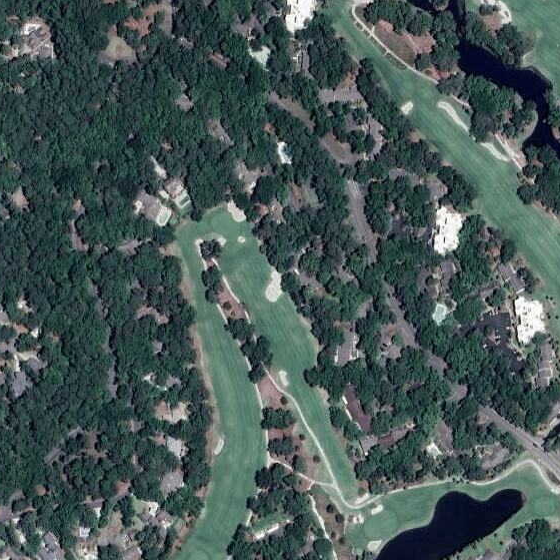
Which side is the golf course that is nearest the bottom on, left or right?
right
